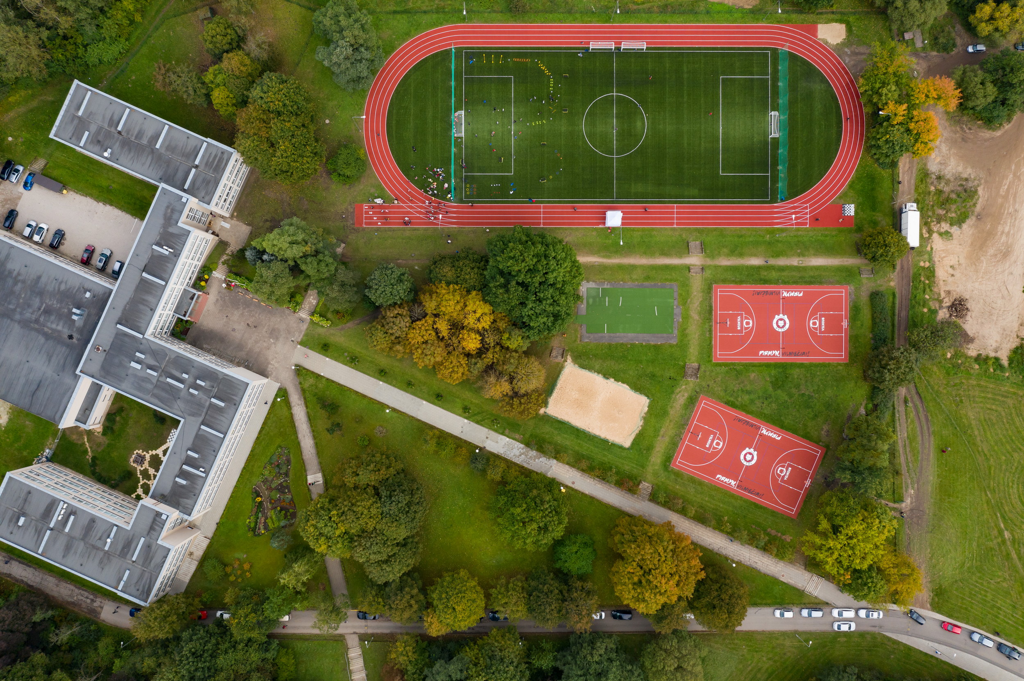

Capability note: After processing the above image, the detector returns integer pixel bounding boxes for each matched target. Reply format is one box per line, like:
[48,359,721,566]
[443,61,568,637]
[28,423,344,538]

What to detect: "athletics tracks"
[355,23,865,227]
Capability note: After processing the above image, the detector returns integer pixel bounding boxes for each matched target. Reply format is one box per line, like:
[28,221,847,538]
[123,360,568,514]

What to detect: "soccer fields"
[386,46,842,204]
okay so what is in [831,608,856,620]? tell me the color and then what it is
white vehicle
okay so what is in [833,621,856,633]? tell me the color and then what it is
white vehicle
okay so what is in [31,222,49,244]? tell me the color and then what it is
white car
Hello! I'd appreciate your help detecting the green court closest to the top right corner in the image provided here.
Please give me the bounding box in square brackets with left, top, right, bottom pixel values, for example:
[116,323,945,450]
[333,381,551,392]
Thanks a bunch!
[575,281,682,343]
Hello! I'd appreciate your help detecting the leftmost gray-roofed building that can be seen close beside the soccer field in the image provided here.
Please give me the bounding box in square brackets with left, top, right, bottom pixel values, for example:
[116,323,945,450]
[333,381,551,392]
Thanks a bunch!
[0,79,271,607]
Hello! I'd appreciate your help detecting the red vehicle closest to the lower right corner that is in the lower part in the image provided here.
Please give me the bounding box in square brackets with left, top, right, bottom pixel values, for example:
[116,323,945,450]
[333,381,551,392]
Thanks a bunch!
[940,620,965,637]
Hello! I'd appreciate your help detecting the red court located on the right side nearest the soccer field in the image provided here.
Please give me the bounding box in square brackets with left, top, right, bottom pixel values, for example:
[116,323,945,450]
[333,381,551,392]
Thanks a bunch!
[713,284,849,363]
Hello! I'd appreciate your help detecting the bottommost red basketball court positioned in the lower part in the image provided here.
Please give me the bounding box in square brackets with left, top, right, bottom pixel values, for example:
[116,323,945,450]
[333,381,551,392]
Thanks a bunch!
[670,394,826,520]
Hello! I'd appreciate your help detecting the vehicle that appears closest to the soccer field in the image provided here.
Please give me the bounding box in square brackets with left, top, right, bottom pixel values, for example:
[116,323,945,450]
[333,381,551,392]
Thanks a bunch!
[904,203,925,250]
